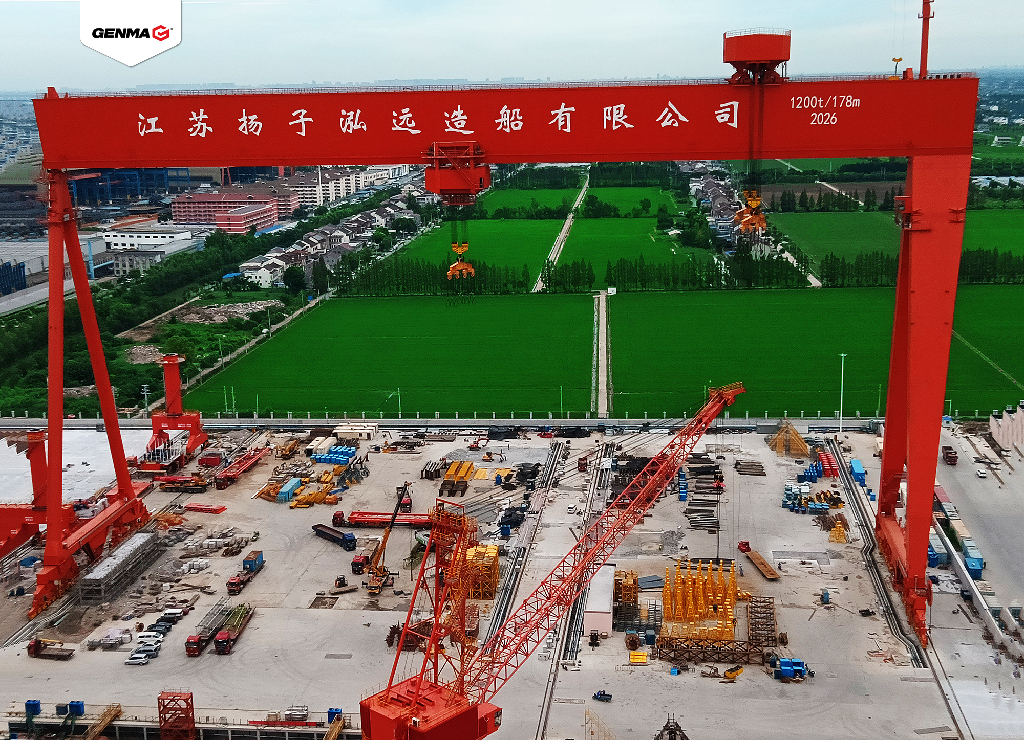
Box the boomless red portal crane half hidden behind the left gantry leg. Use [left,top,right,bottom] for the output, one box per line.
[0,440,90,577]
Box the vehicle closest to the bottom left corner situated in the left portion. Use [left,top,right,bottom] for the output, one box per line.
[25,633,76,659]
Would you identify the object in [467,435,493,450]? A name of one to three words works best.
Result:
work vehicle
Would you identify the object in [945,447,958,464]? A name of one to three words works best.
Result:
vehicle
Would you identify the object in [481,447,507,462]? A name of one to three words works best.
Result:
work vehicle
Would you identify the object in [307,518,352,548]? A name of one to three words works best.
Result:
truck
